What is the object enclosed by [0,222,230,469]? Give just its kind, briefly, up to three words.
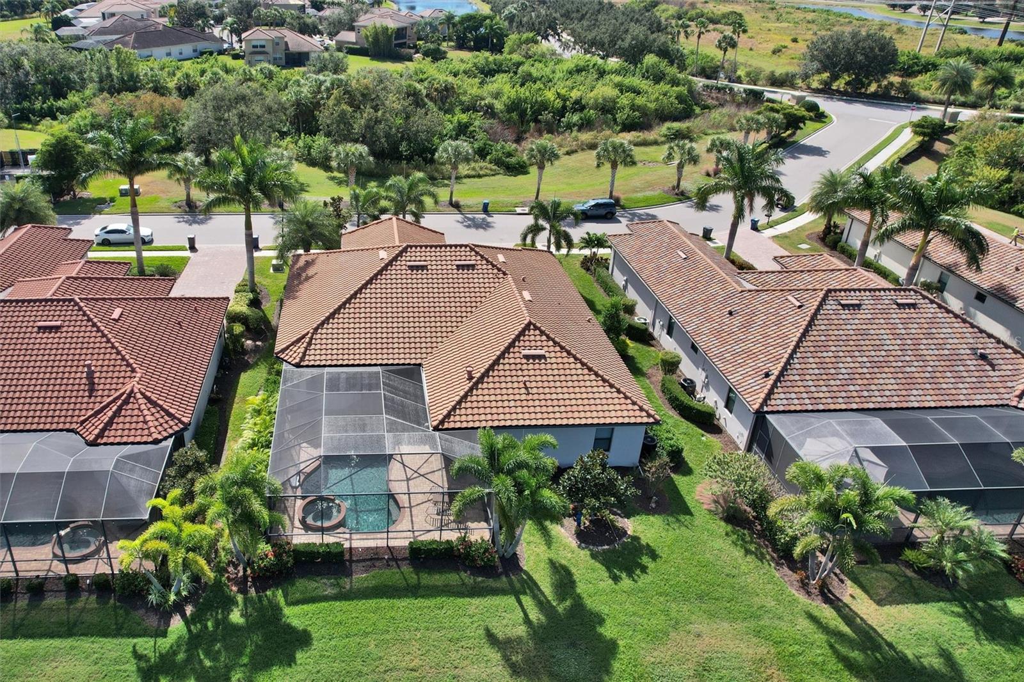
house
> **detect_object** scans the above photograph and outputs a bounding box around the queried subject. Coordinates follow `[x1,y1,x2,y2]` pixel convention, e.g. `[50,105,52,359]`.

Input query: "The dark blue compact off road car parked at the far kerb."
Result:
[572,197,620,219]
